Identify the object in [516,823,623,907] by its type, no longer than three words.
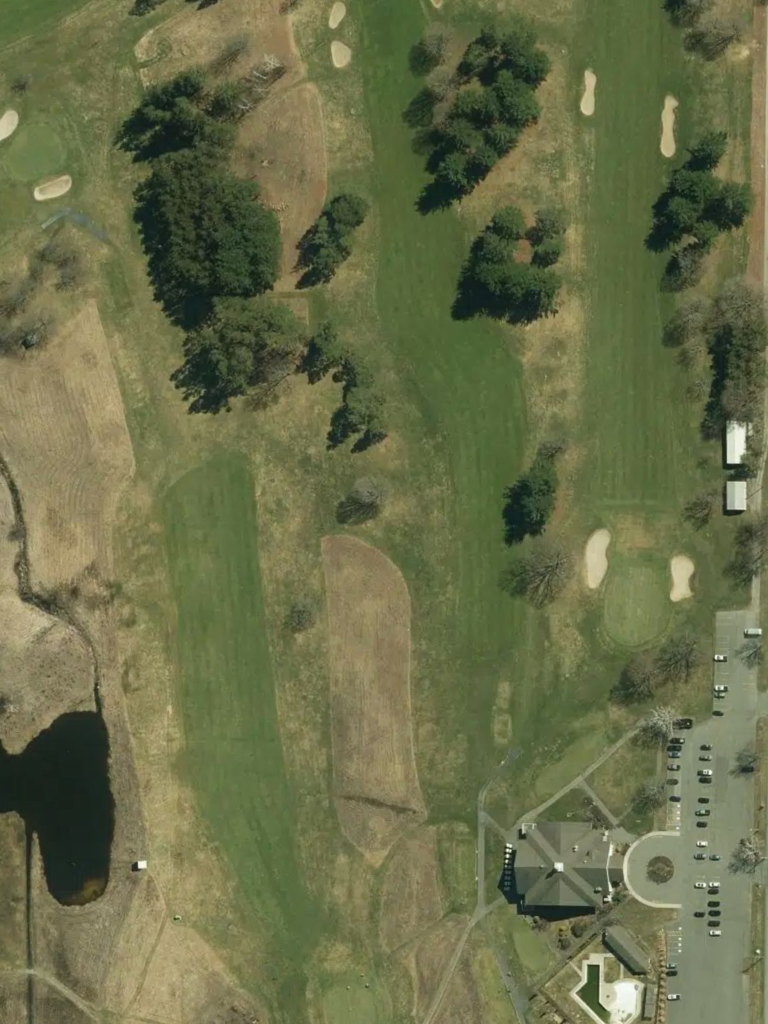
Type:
building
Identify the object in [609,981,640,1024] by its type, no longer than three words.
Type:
swimming pool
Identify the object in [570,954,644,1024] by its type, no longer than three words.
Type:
swimming pool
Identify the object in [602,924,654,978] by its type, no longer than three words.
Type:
building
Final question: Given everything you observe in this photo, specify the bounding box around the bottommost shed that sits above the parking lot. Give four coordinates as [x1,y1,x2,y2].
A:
[727,481,747,510]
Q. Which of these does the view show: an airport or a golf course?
golf course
